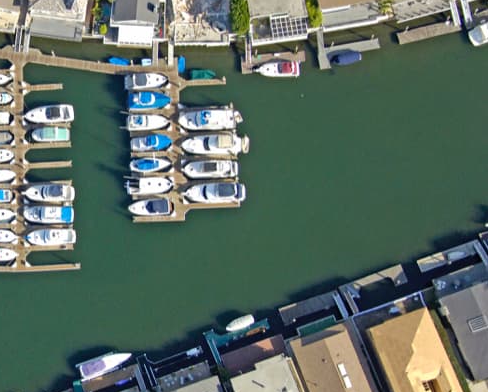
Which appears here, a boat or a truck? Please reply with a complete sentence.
This aerial view contains a boat.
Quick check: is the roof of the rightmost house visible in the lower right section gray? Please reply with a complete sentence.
Yes, the roof of the rightmost house visible in the lower right section is indeed gray.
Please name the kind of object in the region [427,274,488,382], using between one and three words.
house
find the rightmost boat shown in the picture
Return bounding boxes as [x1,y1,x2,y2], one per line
[469,21,488,42]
